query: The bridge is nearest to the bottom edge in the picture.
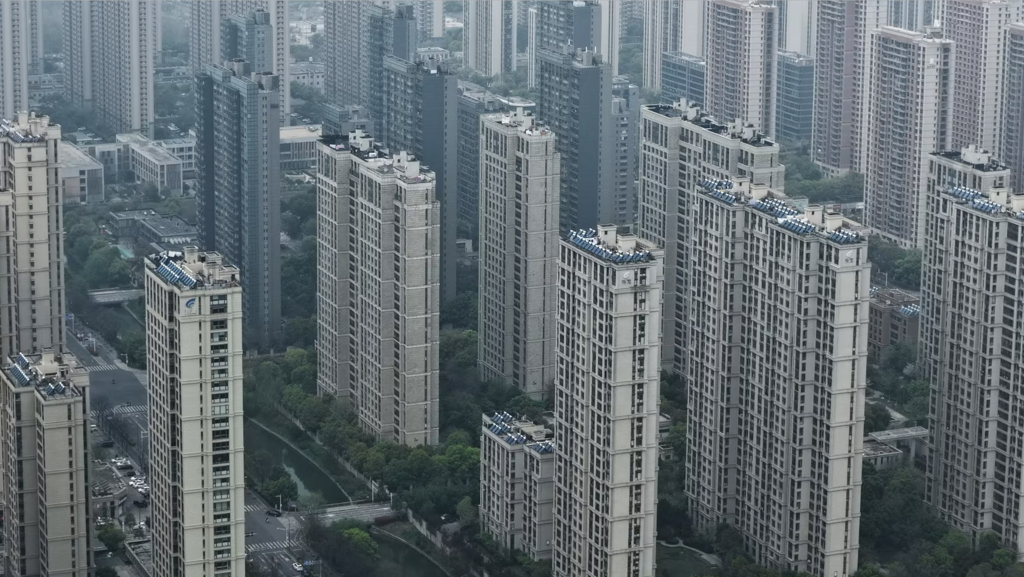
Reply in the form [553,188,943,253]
[311,499,407,528]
